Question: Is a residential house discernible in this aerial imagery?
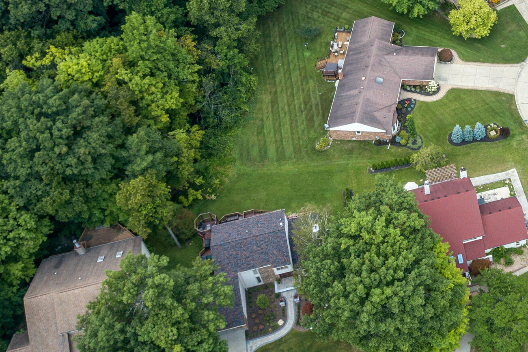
Yes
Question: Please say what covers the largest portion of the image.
trees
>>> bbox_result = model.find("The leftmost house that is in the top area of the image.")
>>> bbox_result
[313,15,441,145]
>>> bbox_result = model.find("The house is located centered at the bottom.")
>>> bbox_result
[194,209,326,339]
